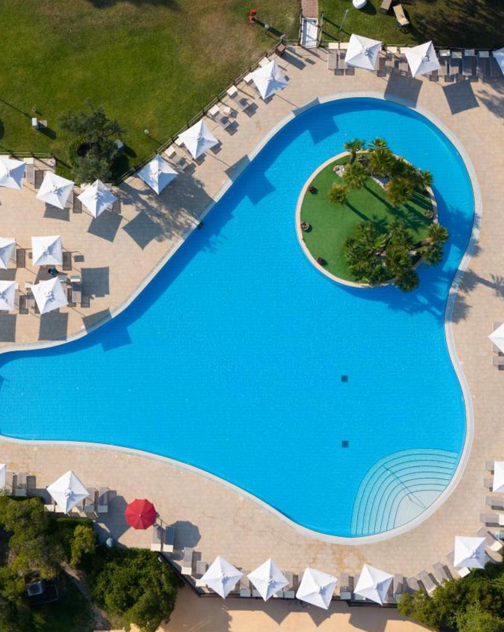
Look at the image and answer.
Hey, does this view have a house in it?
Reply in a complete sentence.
No, there appears to be no house in this shot.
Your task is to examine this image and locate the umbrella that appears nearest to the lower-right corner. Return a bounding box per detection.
[452,535,484,567]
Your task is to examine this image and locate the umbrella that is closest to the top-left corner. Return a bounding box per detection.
[0,156,28,192]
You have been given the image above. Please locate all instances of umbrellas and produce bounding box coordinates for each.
[76,182,118,220]
[354,562,392,603]
[247,558,288,599]
[137,155,178,196]
[297,568,335,606]
[31,235,63,266]
[248,59,290,101]
[177,119,219,161]
[343,35,379,72]
[125,497,157,530]
[36,171,75,210]
[30,276,68,314]
[489,461,504,492]
[48,470,89,512]
[0,282,16,311]
[491,47,504,80]
[402,42,439,80]
[0,156,28,192]
[487,321,504,354]
[0,237,17,271]
[452,535,484,567]
[201,557,242,597]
